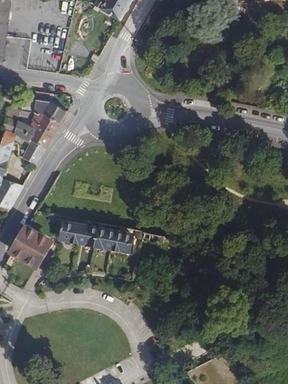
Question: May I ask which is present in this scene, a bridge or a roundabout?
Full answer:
The one in the frame is a roundabout.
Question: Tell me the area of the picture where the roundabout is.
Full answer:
The roundabout is located in the top region of the scene.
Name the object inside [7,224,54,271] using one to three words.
house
